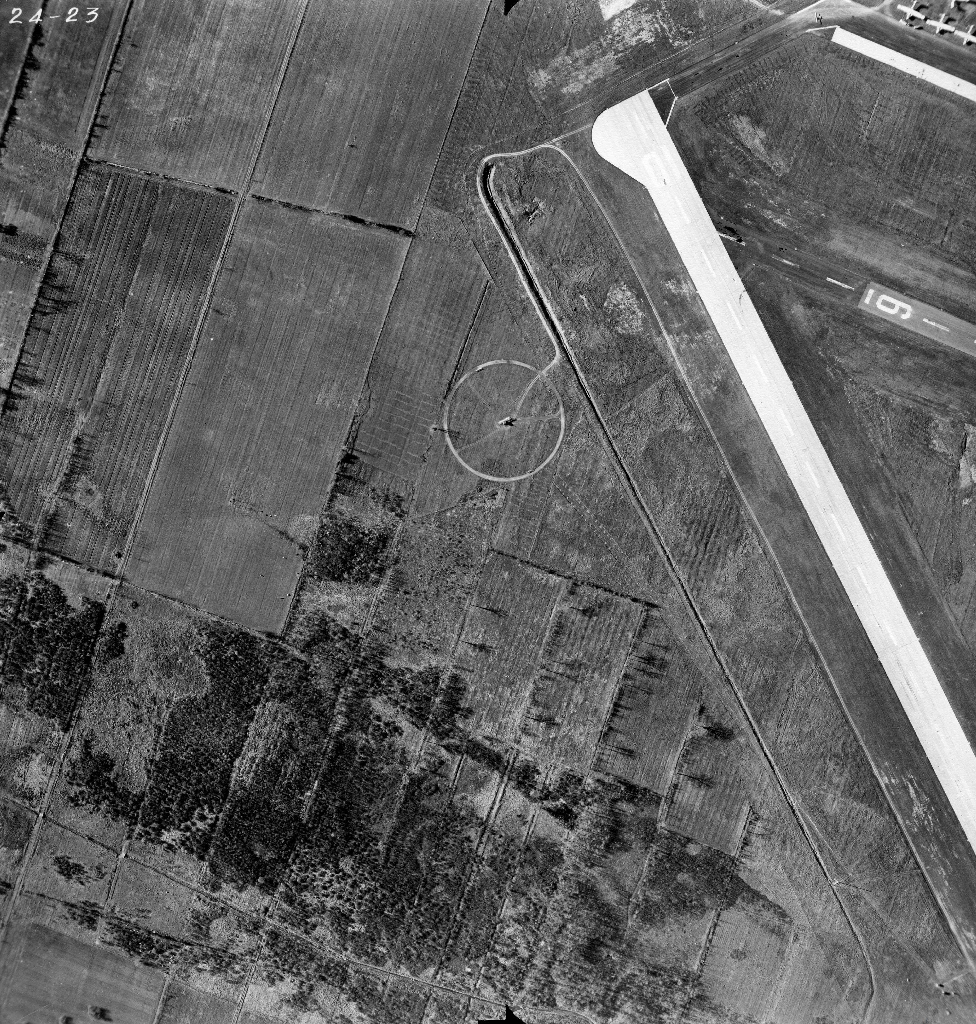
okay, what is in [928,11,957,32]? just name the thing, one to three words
airplane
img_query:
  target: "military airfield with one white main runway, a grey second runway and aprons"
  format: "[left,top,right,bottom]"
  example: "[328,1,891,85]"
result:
[592,0,976,853]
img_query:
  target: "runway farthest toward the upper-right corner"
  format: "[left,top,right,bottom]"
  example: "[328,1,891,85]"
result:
[858,281,976,359]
